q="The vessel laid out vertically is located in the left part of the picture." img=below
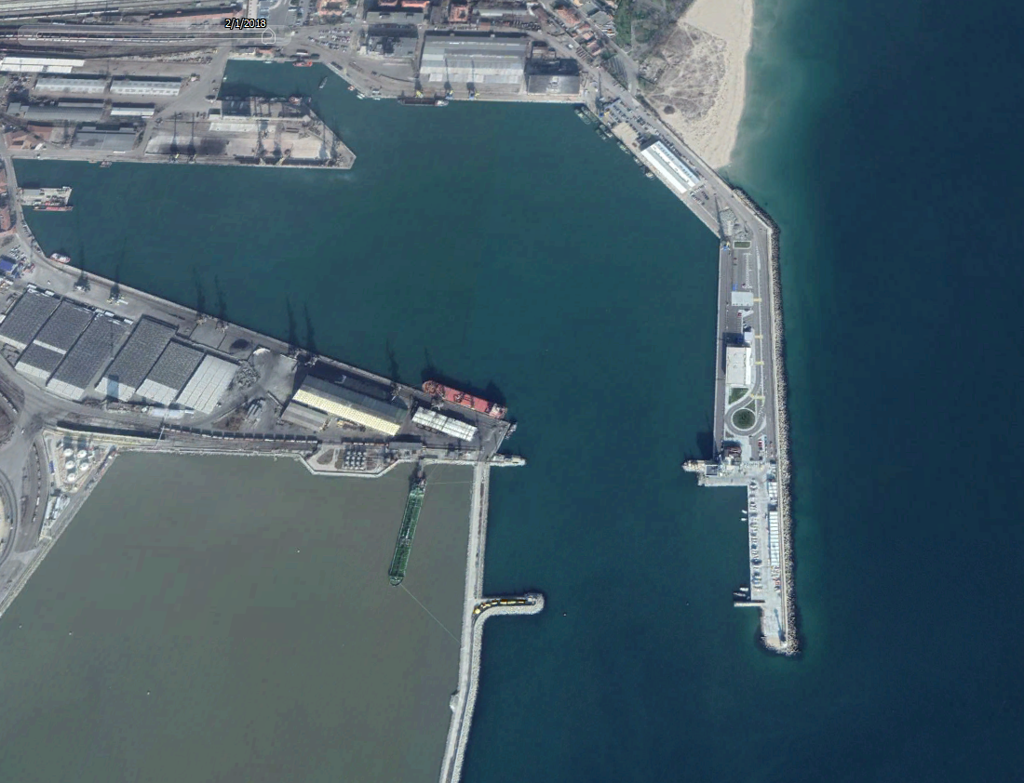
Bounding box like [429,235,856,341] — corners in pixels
[390,476,426,586]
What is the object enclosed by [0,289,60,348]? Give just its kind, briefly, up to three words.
building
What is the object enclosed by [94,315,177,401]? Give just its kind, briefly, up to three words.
building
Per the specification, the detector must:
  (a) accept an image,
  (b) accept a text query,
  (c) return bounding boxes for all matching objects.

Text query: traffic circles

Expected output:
[723,367,765,440]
